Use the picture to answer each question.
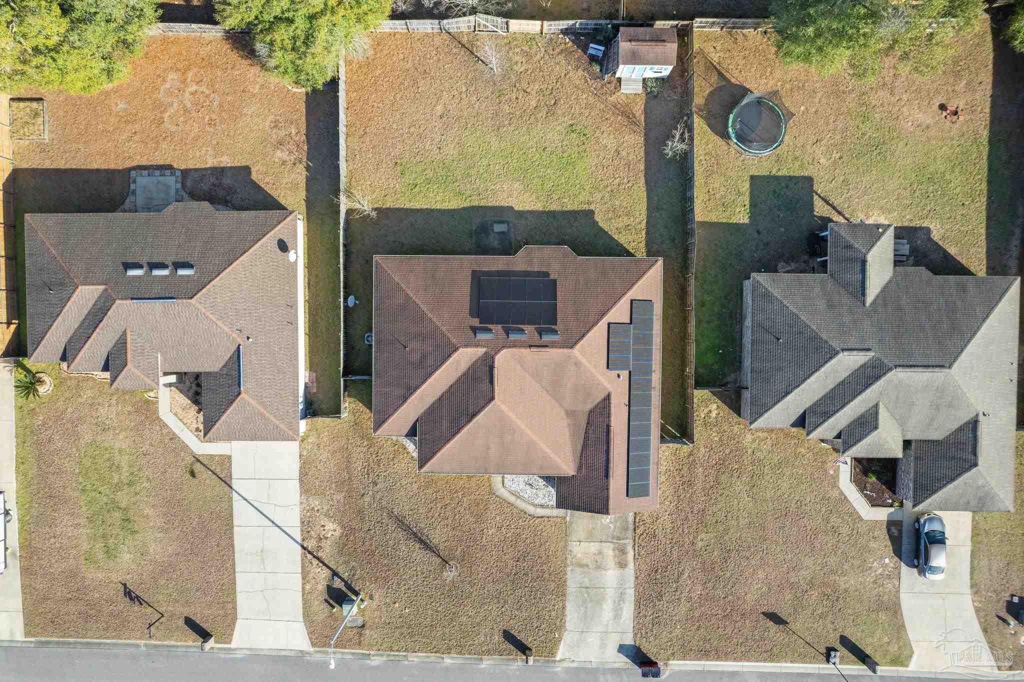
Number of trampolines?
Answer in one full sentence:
I count 1 trampoline.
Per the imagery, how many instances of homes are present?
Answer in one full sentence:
In total, there are 3 homes in the scene.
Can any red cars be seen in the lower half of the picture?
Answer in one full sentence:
No, no red car appears in the lower half of the picture.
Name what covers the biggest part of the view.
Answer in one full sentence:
For the most part, this view shows grass.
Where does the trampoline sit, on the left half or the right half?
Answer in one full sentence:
It is on the right.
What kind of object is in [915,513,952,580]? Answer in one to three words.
car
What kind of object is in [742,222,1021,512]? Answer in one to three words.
house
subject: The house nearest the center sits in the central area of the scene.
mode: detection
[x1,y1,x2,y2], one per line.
[372,246,663,515]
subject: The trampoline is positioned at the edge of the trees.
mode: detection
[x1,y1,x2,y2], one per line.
[724,85,798,163]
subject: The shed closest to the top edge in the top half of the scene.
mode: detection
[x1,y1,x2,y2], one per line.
[616,34,679,93]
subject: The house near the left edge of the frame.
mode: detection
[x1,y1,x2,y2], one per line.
[24,201,306,442]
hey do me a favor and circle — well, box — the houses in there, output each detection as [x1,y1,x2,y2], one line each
[372,246,663,515]
[742,222,1021,512]
[24,201,306,442]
